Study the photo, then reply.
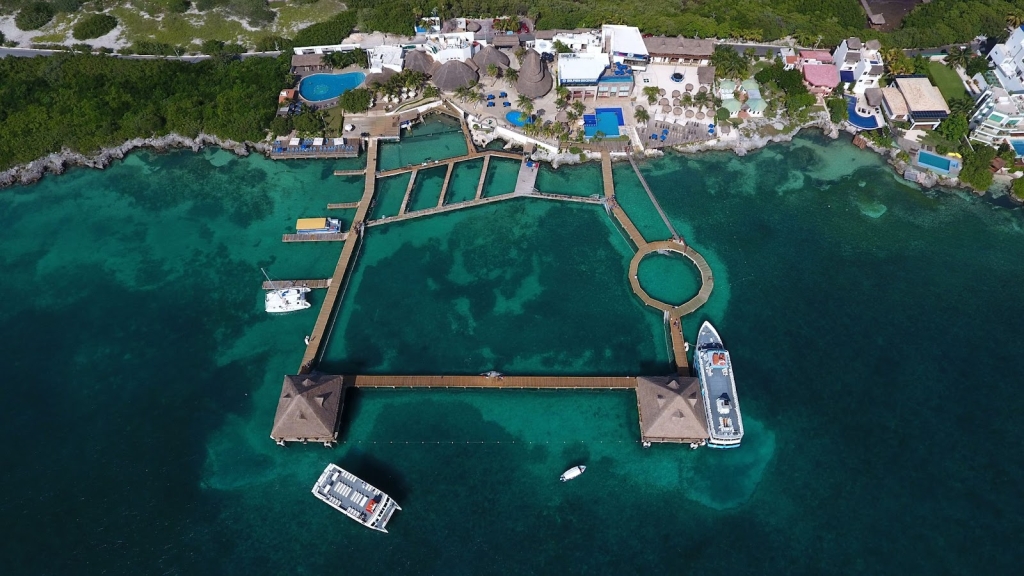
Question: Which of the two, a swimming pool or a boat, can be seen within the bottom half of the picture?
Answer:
boat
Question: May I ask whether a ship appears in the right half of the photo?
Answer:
Yes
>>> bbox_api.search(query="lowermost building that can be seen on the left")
[270,375,348,444]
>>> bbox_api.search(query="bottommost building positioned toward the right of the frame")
[634,376,708,445]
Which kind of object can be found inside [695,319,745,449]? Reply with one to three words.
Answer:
ship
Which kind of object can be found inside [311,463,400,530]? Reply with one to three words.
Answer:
boat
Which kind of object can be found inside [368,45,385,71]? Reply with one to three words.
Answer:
house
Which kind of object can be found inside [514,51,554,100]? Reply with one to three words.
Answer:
shed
